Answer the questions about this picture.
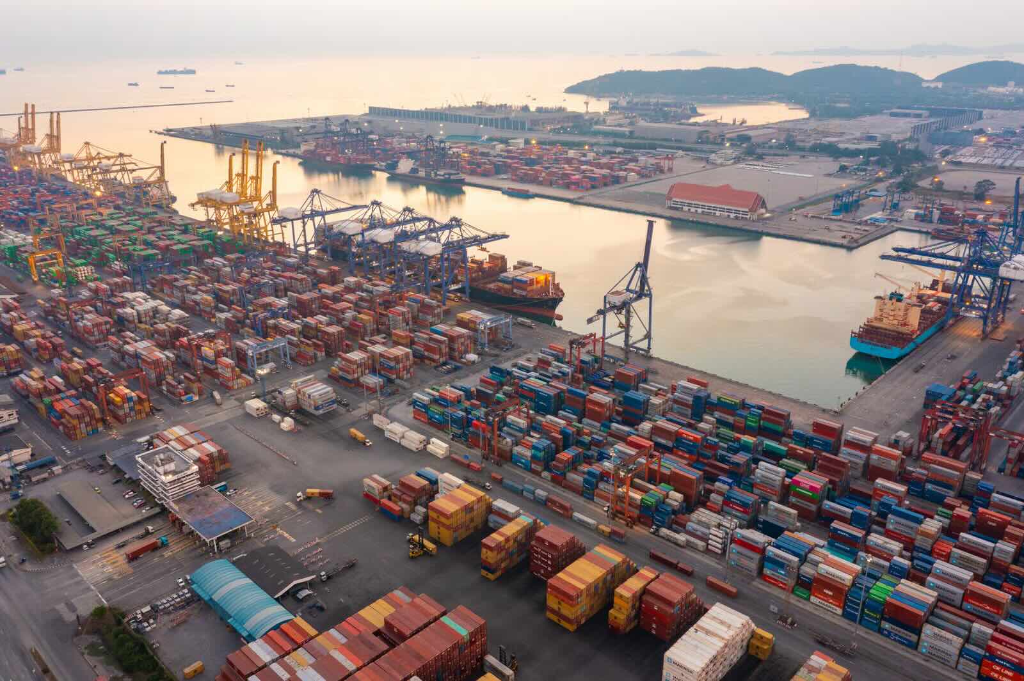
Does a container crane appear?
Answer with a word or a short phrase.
Yes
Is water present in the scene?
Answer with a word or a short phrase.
Yes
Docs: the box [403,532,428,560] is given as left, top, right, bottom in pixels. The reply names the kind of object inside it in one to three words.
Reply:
work vehicle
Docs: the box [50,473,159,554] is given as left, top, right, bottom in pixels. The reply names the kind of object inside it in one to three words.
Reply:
shed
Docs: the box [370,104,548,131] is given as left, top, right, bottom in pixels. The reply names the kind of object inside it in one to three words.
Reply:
building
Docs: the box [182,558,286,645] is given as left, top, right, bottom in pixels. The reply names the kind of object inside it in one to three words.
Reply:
building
